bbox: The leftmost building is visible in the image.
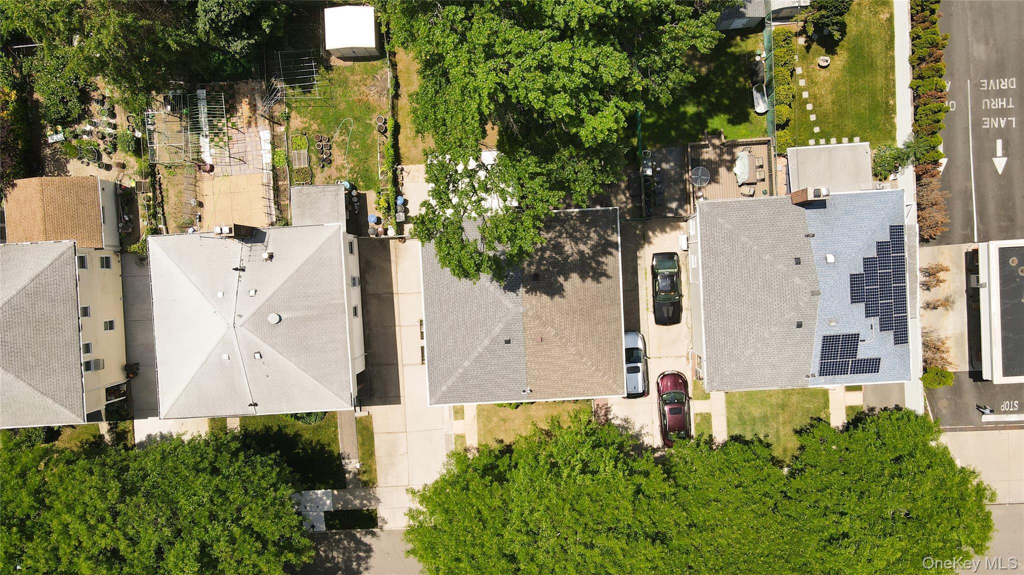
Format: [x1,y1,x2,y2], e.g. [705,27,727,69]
[0,174,129,430]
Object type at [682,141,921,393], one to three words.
house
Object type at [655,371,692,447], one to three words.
car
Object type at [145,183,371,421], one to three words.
house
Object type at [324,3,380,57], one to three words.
shed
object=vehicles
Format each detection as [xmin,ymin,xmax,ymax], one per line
[651,252,685,325]
[655,371,692,447]
[625,330,654,399]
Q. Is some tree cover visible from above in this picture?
Yes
